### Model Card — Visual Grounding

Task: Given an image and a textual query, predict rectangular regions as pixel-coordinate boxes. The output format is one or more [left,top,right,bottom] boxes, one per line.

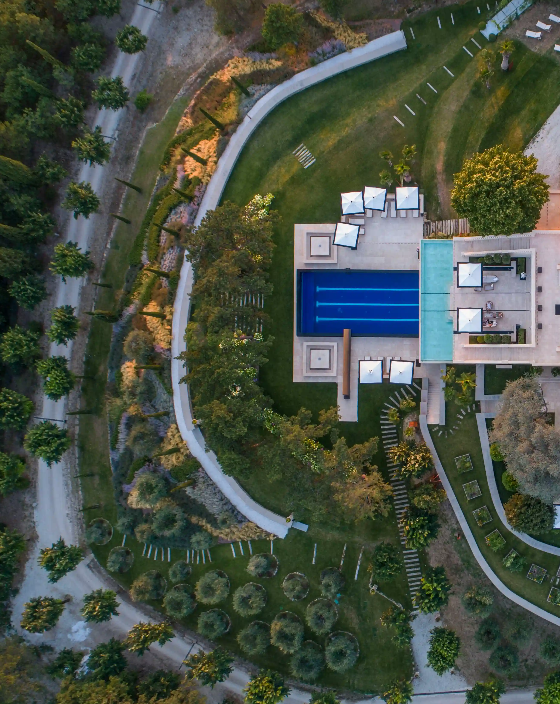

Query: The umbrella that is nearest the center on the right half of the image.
[358,360,383,384]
